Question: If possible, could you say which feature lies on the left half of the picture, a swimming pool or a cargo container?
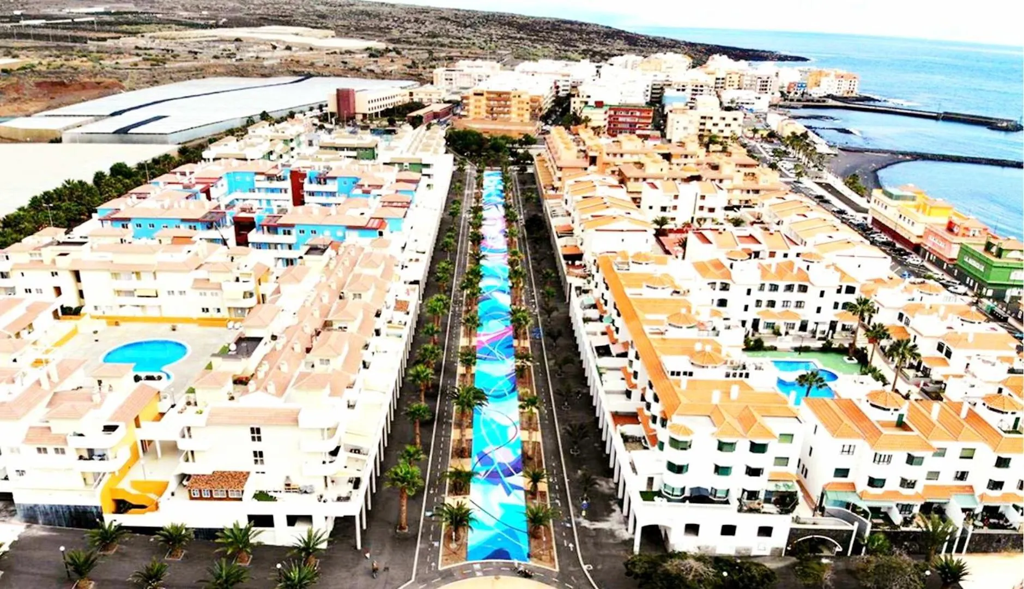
swimming pool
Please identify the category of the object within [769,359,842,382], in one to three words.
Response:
swimming pool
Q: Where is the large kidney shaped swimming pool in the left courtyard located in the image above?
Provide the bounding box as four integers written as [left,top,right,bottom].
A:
[100,337,195,382]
